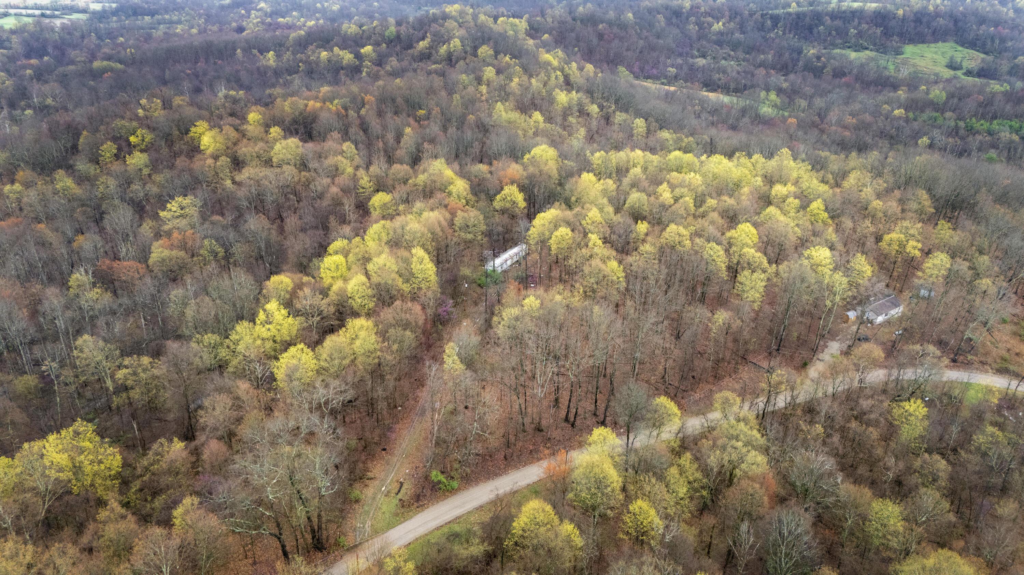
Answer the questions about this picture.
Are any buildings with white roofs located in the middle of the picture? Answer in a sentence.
Yes, the scene does show a building with a white roof in the middle of the picture.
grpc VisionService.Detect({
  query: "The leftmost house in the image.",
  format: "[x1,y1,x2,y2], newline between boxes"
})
[490,243,529,272]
